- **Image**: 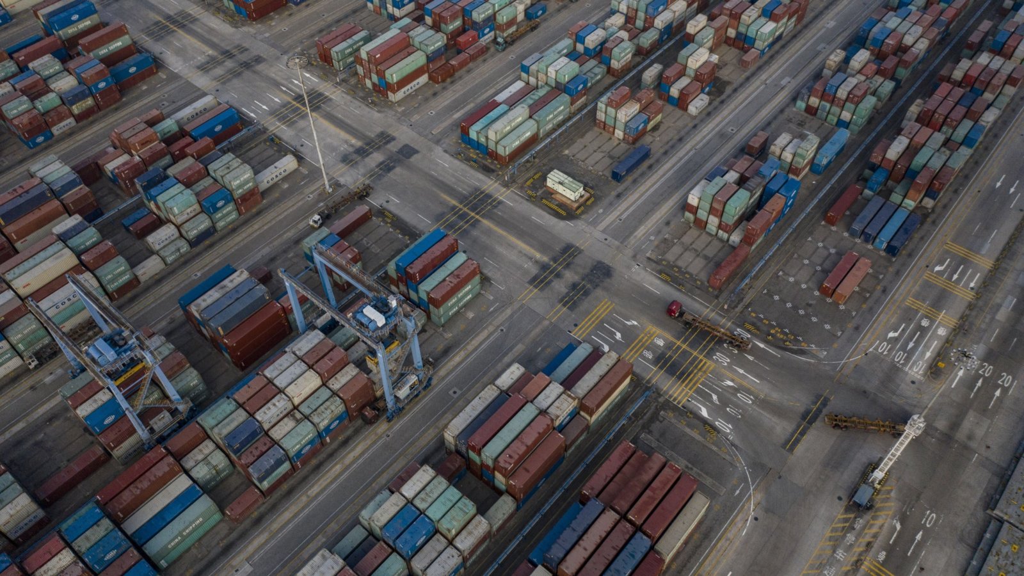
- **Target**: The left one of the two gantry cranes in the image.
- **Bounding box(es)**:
[13,264,203,456]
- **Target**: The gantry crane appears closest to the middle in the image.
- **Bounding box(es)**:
[273,238,441,426]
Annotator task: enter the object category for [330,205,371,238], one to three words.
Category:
shipping container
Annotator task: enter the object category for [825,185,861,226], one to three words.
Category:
shipping container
